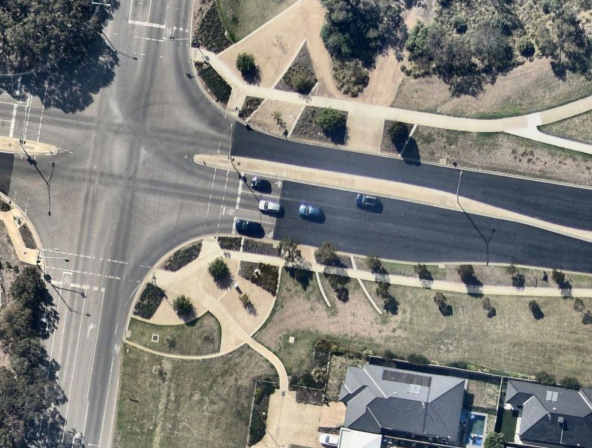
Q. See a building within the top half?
No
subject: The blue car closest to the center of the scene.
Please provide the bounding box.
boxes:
[299,204,325,218]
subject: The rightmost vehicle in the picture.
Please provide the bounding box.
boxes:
[354,193,381,209]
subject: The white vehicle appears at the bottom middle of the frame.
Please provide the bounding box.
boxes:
[316,434,339,448]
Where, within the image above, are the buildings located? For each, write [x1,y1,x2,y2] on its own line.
[505,380,592,448]
[339,364,466,446]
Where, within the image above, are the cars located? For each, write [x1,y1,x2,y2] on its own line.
[258,199,284,213]
[235,219,264,234]
[299,204,325,218]
[251,177,273,190]
[354,193,381,209]
[316,434,339,448]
